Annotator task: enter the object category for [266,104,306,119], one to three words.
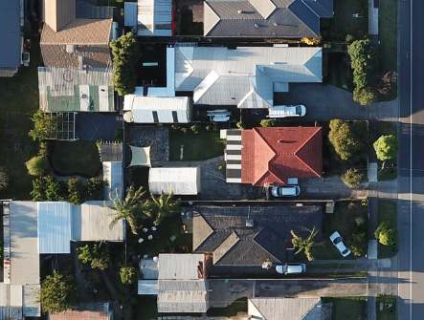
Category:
vehicle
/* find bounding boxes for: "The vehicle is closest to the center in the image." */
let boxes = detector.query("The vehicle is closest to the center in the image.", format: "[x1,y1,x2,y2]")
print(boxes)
[203,108,234,123]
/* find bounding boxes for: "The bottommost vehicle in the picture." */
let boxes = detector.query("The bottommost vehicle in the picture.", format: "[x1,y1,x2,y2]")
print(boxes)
[275,261,306,276]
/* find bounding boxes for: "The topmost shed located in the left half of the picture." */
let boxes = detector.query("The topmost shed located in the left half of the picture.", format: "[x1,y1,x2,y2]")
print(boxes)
[125,0,176,36]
